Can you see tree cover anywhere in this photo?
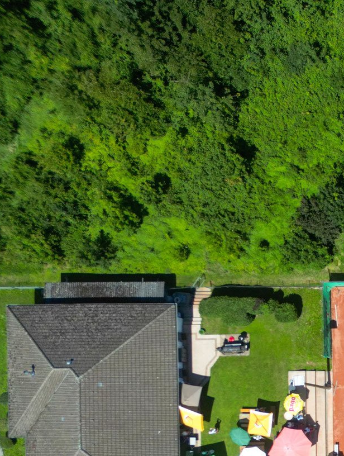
Yes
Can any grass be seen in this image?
Yes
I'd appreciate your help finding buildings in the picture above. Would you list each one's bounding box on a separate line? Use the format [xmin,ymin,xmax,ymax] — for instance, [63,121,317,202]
[44,282,168,300]
[6,303,180,456]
